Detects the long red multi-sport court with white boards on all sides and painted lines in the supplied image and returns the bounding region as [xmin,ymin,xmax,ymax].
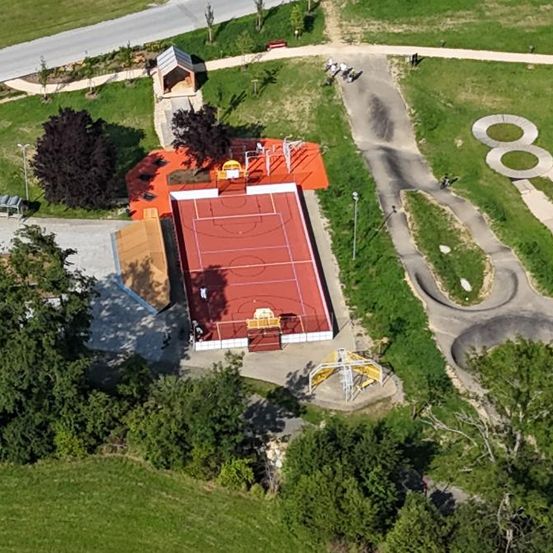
[172,167,334,355]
